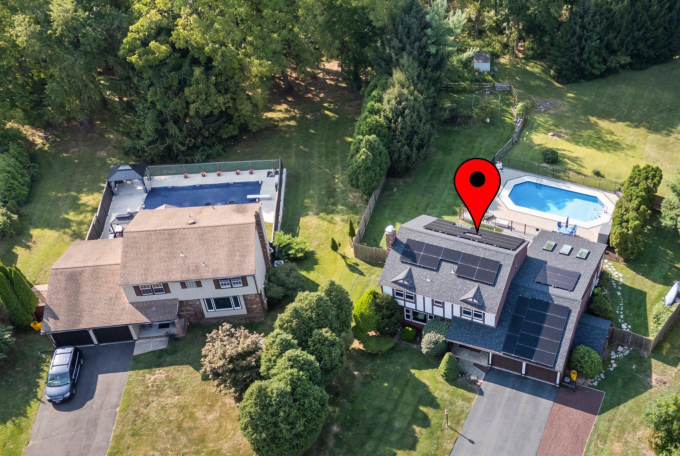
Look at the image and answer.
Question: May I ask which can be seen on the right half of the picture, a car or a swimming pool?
swimming pool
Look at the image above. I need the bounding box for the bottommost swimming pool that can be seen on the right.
[499,174,613,229]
